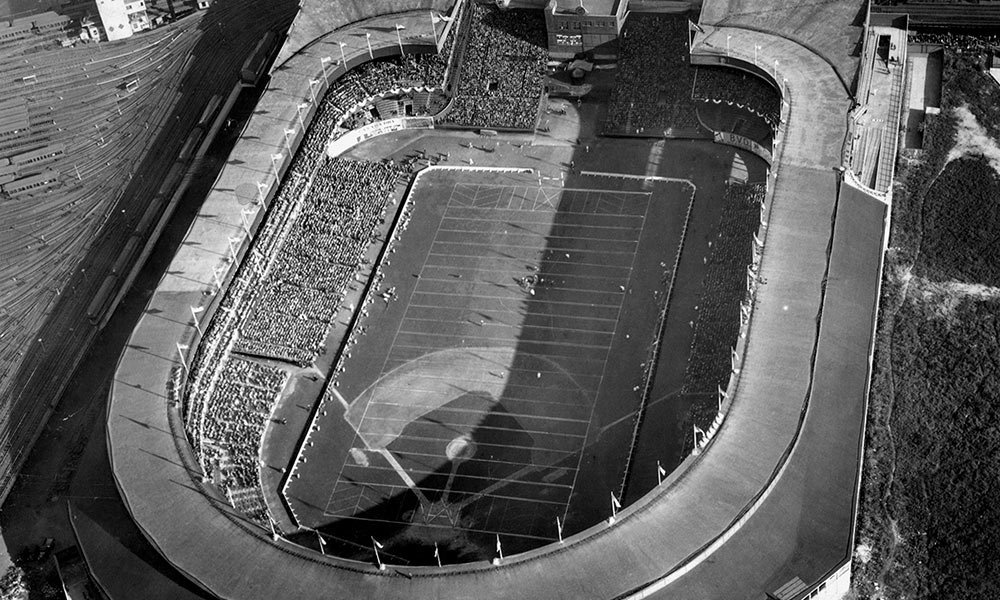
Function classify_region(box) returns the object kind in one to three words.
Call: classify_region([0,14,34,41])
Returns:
rail car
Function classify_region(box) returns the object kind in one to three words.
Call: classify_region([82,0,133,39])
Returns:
building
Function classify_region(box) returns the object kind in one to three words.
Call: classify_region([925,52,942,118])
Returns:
house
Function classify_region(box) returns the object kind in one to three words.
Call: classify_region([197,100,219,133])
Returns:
rail car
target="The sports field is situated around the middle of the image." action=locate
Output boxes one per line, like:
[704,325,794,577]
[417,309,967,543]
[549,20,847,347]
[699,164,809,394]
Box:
[260,41,766,565]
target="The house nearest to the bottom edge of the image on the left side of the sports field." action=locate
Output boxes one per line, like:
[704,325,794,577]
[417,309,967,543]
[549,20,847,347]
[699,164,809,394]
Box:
[54,544,95,600]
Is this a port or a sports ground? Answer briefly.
sports ground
